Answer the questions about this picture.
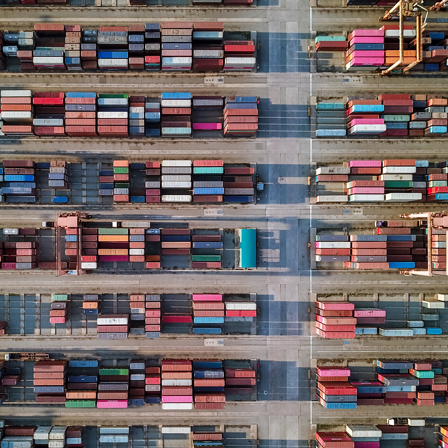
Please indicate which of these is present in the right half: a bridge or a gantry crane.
gantry crane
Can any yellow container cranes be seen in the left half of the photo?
No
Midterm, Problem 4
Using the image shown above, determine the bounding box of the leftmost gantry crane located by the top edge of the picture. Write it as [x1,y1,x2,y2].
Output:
[372,0,428,77]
